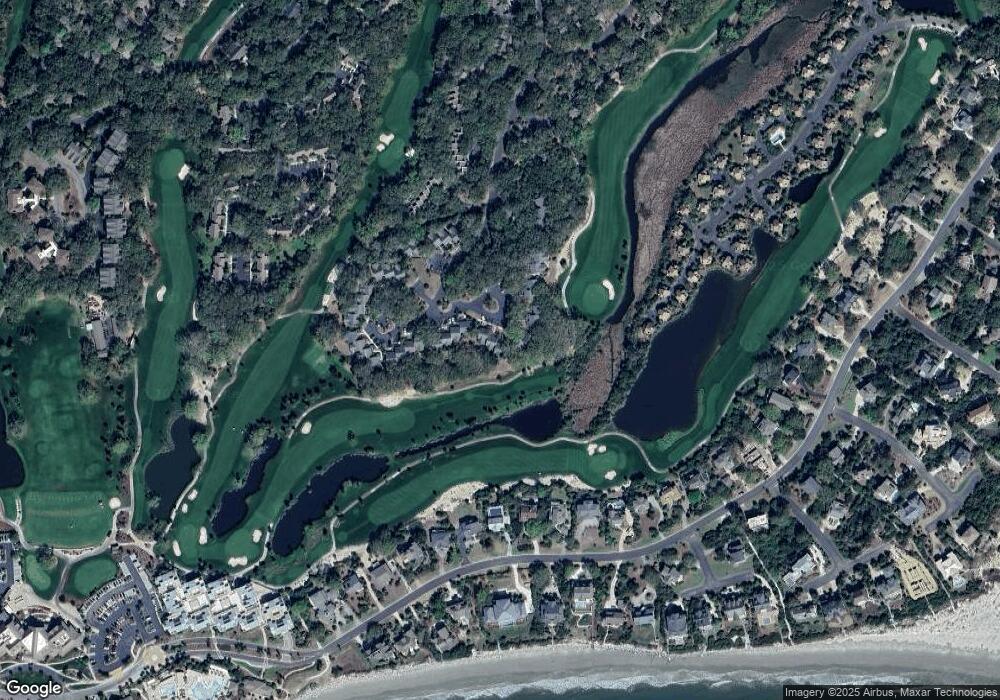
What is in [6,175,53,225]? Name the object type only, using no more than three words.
building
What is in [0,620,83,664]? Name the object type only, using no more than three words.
building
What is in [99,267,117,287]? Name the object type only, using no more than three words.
house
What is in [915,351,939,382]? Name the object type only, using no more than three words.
house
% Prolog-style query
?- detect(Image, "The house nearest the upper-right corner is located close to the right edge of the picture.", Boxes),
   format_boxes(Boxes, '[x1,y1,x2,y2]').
[965,47,999,77]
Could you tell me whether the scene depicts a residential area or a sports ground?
residential area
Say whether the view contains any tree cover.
Yes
